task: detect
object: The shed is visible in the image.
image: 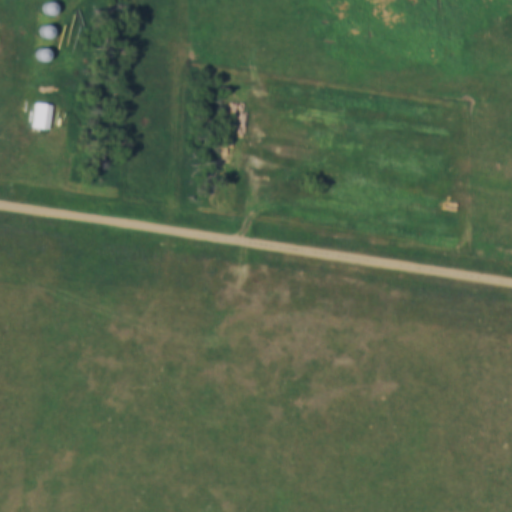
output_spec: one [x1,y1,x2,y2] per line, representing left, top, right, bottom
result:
[32,102,53,130]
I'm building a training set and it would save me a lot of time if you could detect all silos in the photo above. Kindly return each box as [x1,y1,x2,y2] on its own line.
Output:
[39,24,57,40]
[42,0,60,16]
[36,48,54,64]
